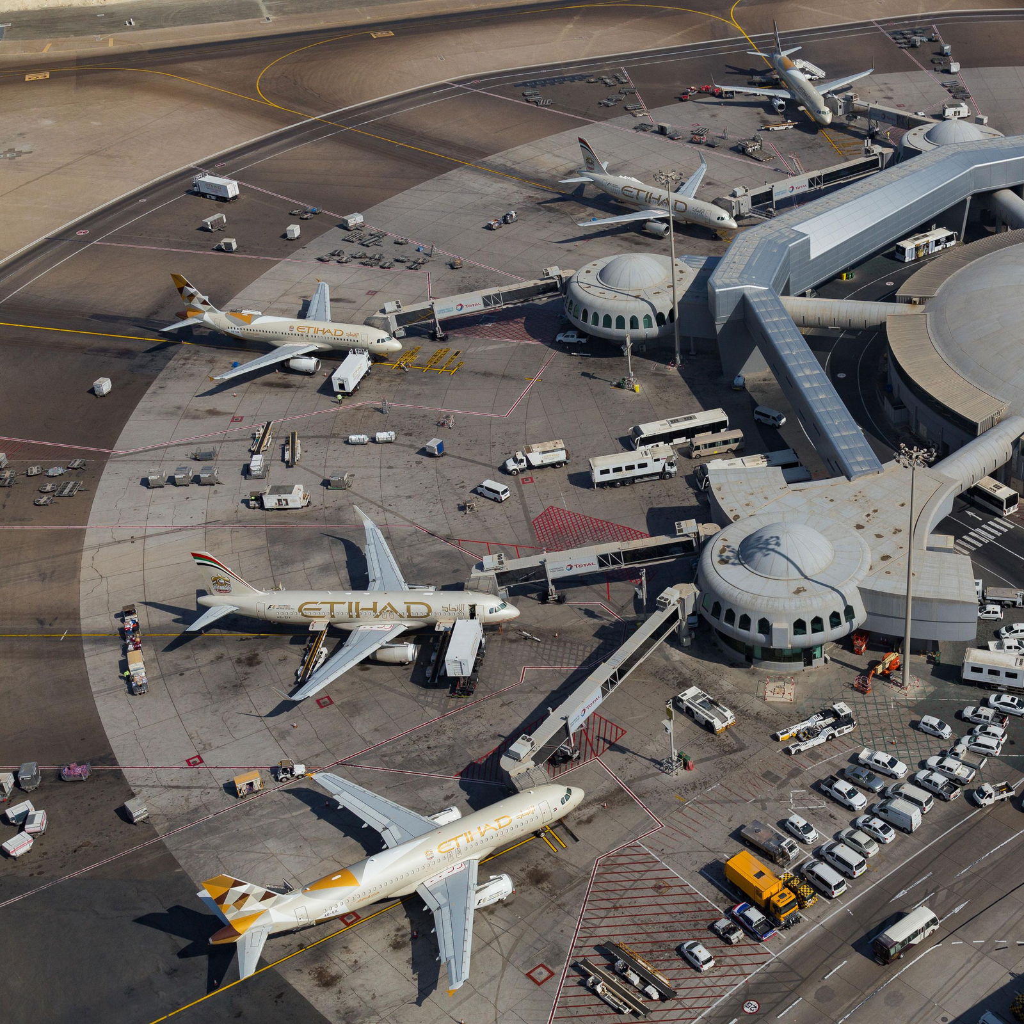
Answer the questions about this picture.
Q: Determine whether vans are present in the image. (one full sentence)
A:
Yes, the picture does show a van.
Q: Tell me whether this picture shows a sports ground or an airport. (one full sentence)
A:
It's an airport.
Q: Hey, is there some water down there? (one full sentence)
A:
No, the scene doesn't show any water.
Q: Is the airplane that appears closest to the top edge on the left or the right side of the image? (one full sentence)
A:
You can find the airplane that appears closest to the top edge on the right side of the picture.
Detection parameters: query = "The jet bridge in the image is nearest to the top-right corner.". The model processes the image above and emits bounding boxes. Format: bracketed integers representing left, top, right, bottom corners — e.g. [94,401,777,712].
[827,86,928,138]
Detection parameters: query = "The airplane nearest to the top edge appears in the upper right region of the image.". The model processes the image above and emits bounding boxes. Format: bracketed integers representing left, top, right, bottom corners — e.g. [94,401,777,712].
[710,24,875,126]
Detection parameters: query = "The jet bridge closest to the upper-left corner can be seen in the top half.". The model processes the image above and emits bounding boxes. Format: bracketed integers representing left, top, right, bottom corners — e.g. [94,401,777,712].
[366,267,578,347]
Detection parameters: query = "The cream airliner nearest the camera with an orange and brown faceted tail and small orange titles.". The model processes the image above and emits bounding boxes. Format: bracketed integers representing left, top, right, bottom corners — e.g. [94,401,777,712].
[199,770,584,999]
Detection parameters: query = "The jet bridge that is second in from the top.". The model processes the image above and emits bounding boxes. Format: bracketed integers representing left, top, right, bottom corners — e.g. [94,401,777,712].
[716,152,899,222]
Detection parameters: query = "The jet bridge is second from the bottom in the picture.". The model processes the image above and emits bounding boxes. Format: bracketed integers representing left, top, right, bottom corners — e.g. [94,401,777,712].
[464,520,726,610]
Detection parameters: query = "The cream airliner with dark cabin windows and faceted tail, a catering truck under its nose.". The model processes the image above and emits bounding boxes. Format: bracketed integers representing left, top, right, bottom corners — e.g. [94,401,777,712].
[159,273,400,383]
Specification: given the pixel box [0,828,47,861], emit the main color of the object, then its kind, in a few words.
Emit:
white trailer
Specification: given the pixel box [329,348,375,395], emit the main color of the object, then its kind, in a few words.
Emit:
white truck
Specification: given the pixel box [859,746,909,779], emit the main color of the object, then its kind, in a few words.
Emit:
white truck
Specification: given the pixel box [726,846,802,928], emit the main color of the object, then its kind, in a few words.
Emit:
orange truck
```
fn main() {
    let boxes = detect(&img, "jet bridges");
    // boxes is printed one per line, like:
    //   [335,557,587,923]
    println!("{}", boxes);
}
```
[491,572,703,799]
[464,520,726,610]
[827,86,928,138]
[366,267,578,347]
[716,152,899,222]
